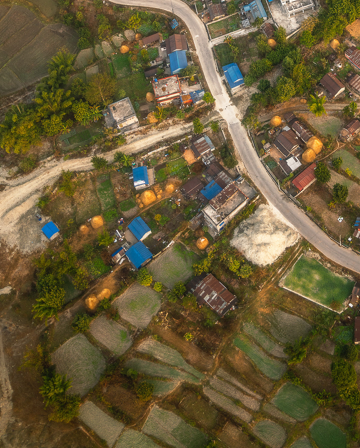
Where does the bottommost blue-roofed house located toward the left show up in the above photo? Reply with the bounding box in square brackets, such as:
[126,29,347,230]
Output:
[113,240,153,268]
